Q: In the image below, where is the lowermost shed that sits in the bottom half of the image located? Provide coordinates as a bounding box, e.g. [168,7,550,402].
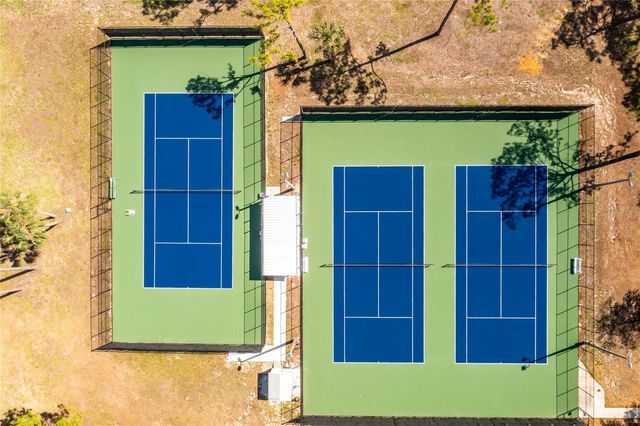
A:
[269,368,292,403]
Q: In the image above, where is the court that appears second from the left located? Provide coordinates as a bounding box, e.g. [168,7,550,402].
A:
[302,112,440,417]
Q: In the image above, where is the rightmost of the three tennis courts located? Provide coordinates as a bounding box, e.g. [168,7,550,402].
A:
[440,112,579,417]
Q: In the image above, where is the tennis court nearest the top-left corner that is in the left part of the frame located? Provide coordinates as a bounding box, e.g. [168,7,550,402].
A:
[111,37,266,344]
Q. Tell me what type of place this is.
sports ground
